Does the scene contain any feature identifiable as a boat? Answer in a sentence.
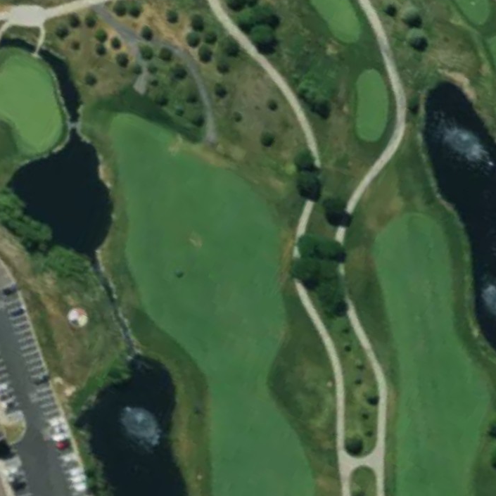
No, no boat can be seen from above.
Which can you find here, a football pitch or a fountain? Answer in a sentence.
I can see a fountain in this picture.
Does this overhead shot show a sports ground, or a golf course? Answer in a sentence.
The area seen from above is a golf course.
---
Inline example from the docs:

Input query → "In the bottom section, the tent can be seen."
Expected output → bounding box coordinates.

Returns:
[67,307,87,327]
